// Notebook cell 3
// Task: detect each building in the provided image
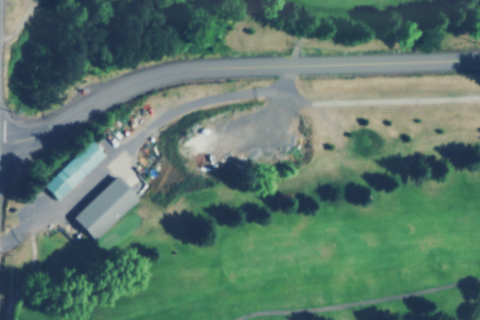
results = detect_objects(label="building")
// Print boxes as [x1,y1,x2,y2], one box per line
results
[76,178,139,242]
[46,143,107,202]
